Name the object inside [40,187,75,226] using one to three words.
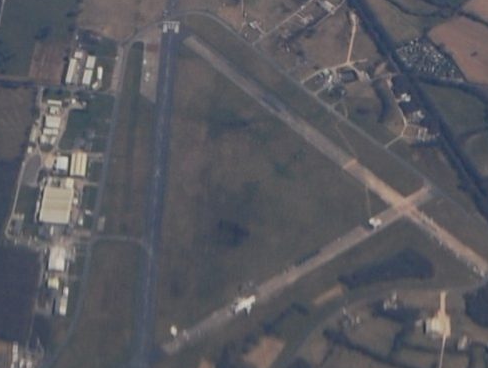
hangar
